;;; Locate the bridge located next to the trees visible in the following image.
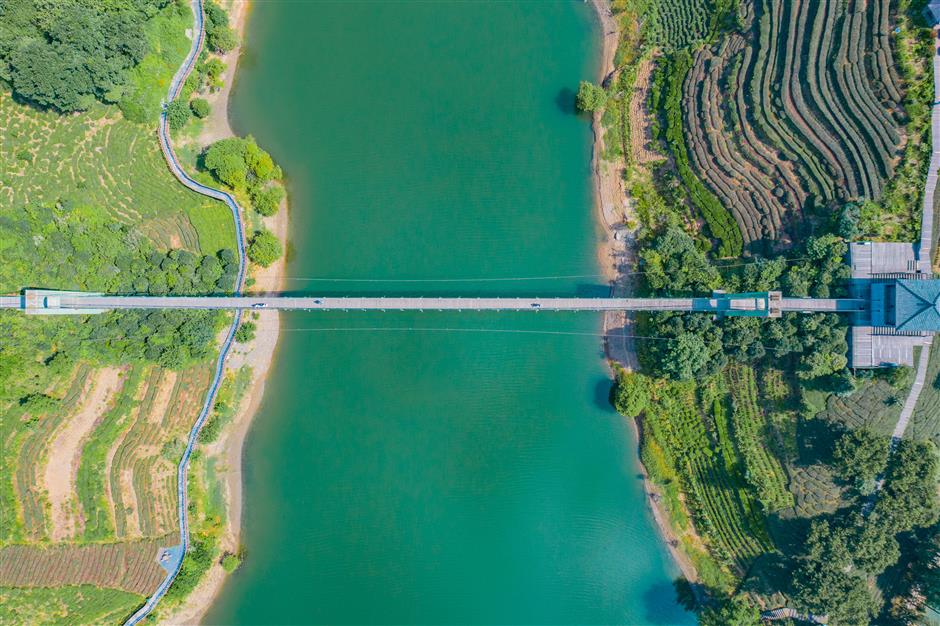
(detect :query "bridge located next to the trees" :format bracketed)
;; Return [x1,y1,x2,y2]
[0,260,871,354]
